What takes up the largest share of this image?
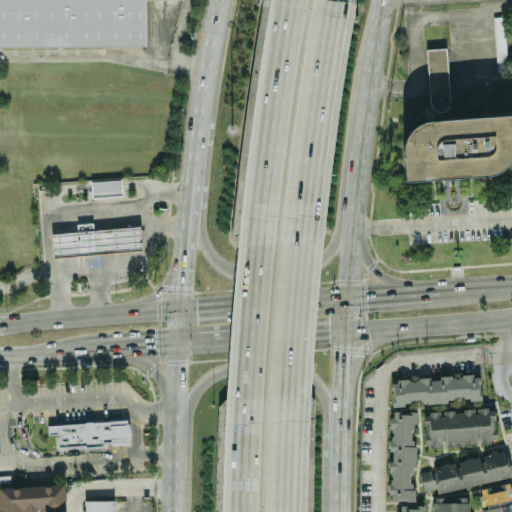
paved ground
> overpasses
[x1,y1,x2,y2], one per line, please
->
[226,215,327,424]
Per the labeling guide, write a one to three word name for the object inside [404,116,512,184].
building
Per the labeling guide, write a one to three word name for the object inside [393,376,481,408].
building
